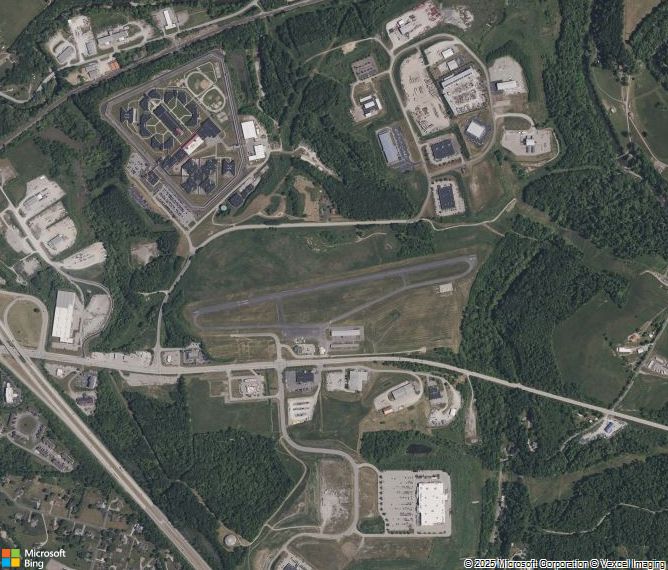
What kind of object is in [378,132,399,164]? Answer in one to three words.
building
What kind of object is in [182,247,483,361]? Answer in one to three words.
airport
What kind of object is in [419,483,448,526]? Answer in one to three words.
building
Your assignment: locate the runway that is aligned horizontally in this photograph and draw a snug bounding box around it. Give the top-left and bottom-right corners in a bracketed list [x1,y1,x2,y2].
[195,254,477,315]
